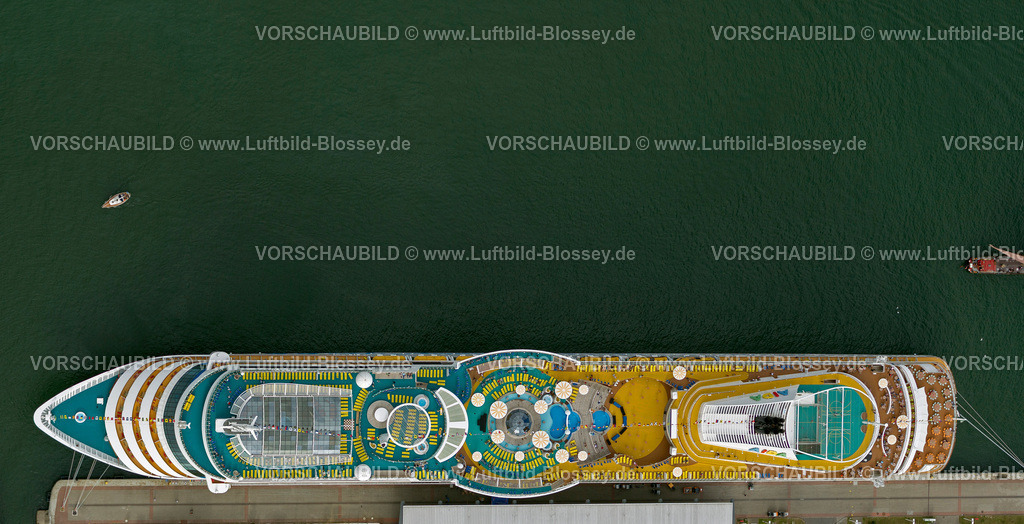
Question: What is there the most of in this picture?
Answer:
water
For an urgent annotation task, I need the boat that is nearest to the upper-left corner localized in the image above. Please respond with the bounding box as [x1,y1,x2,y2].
[102,192,131,208]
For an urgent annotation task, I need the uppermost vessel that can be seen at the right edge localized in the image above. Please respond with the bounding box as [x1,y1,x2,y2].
[962,243,1024,275]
